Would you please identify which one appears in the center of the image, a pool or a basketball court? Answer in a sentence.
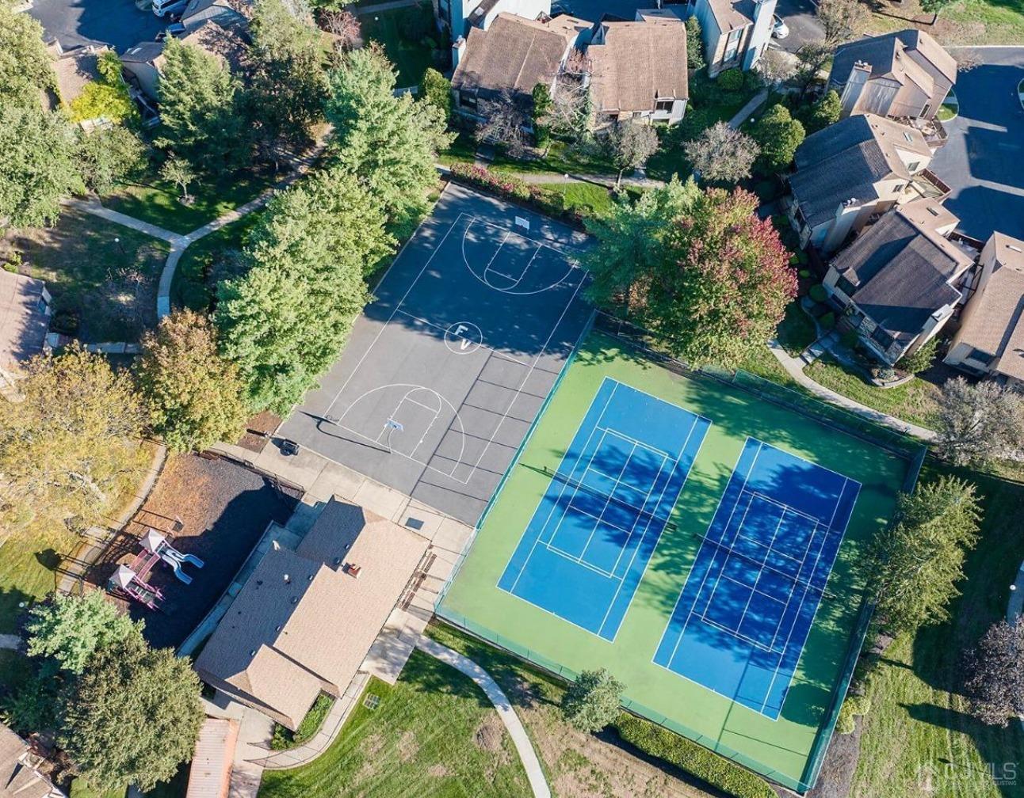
What appears in the center of the image is a basketball court.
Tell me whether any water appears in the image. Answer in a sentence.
No, water can't be seen anywhere here.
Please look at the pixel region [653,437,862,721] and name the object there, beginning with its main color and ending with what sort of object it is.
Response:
blue tennis court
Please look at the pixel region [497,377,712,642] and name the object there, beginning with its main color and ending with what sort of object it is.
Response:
blue tennis court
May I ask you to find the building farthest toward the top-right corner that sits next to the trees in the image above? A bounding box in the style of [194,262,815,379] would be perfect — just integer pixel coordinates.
[828,27,957,146]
